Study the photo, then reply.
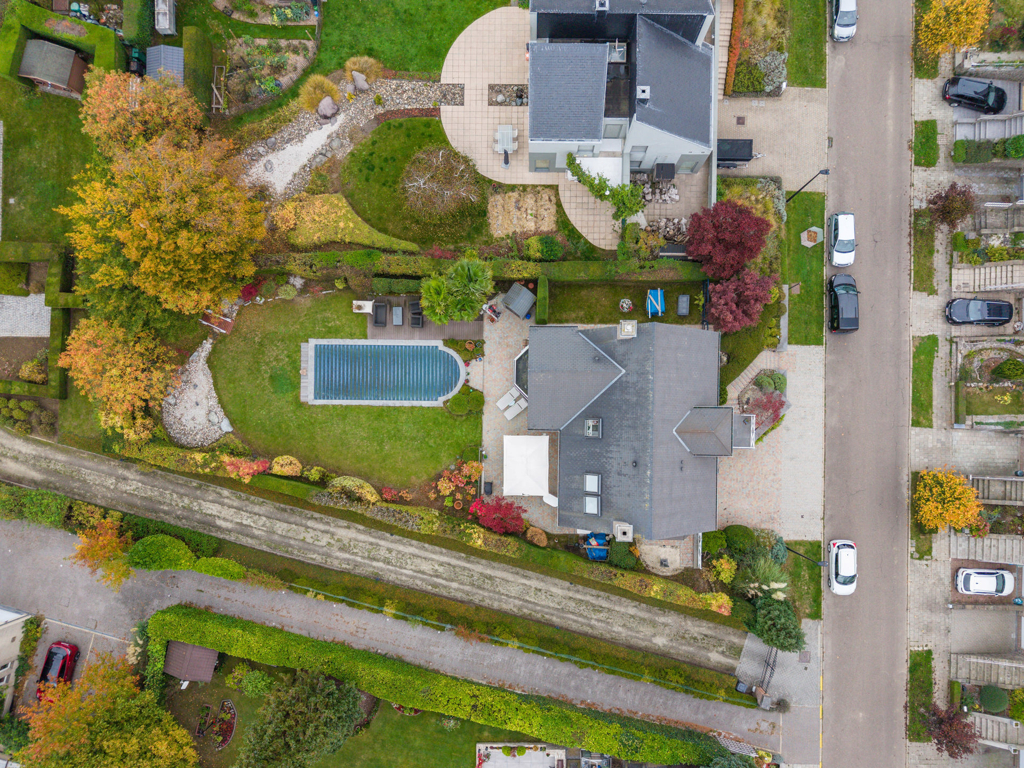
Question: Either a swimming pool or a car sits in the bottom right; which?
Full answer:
You can see a car in the bottom right.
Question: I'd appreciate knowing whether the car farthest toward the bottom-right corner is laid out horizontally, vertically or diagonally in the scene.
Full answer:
The car farthest toward the bottom-right corner runs horizontally in the image.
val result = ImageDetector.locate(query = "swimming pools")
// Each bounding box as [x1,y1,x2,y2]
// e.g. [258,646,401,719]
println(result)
[308,339,466,405]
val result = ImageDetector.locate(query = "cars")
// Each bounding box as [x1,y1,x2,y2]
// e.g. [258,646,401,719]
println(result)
[938,79,1004,117]
[949,566,1014,598]
[37,637,82,699]
[827,0,859,44]
[941,296,1014,327]
[825,274,860,334]
[825,538,858,594]
[826,212,858,267]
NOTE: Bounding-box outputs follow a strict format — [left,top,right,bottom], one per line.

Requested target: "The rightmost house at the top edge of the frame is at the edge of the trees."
[529,0,714,196]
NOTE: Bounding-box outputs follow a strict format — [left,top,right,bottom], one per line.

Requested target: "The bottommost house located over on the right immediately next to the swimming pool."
[513,320,758,542]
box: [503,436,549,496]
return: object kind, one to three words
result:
tent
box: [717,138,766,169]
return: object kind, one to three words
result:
trailer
